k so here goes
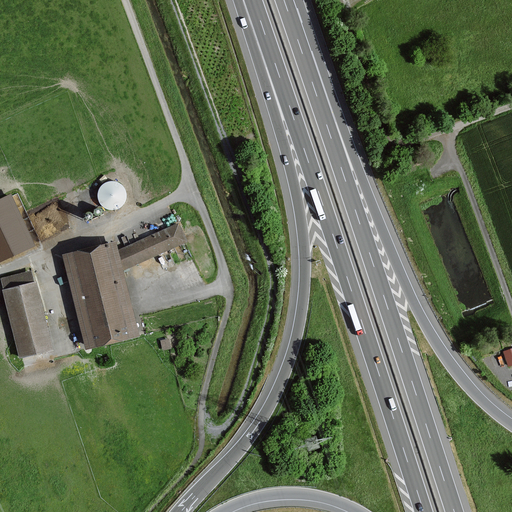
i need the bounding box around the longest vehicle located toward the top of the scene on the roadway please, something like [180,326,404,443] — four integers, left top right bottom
[309,188,326,220]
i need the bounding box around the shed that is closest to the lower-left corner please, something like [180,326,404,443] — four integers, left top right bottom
[2,282,52,358]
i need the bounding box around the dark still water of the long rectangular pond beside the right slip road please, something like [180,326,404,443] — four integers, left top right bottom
[424,196,491,316]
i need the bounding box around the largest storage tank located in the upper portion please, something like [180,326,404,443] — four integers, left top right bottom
[97,180,126,210]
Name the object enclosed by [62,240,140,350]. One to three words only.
barn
